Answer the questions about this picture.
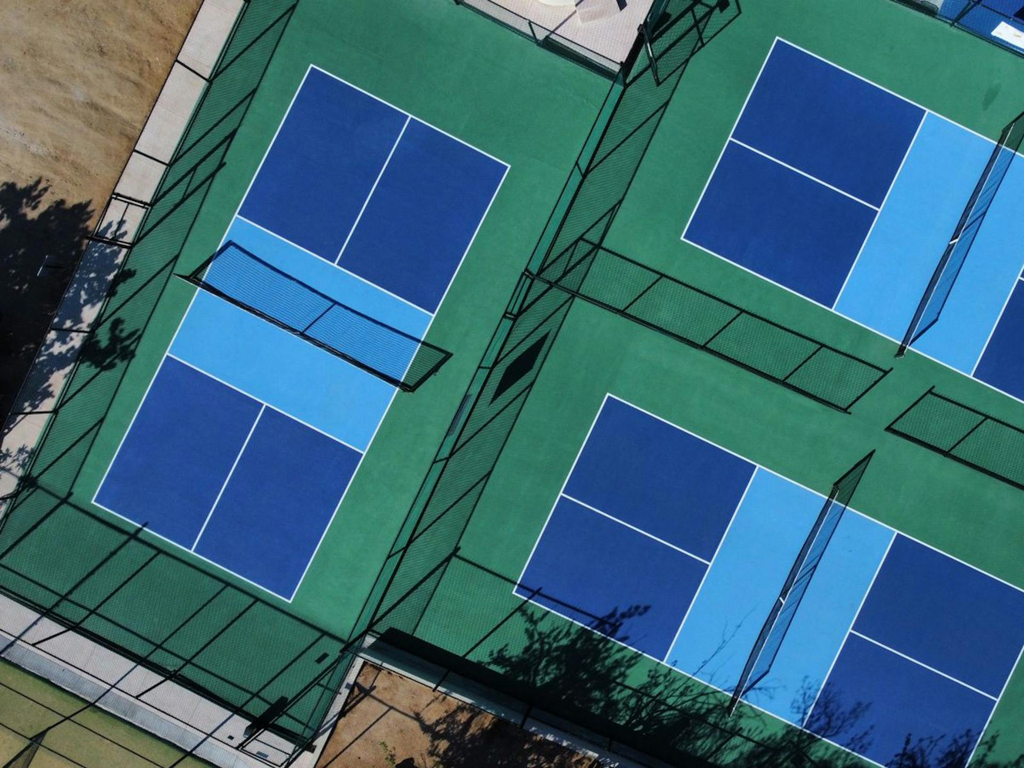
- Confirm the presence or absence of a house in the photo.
No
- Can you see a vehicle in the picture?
No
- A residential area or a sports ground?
sports ground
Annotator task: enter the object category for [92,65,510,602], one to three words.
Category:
sports court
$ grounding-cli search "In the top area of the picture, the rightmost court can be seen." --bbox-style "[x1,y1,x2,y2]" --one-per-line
[682,37,1024,402]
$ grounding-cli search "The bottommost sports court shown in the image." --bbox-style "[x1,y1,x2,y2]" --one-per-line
[513,393,1024,768]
